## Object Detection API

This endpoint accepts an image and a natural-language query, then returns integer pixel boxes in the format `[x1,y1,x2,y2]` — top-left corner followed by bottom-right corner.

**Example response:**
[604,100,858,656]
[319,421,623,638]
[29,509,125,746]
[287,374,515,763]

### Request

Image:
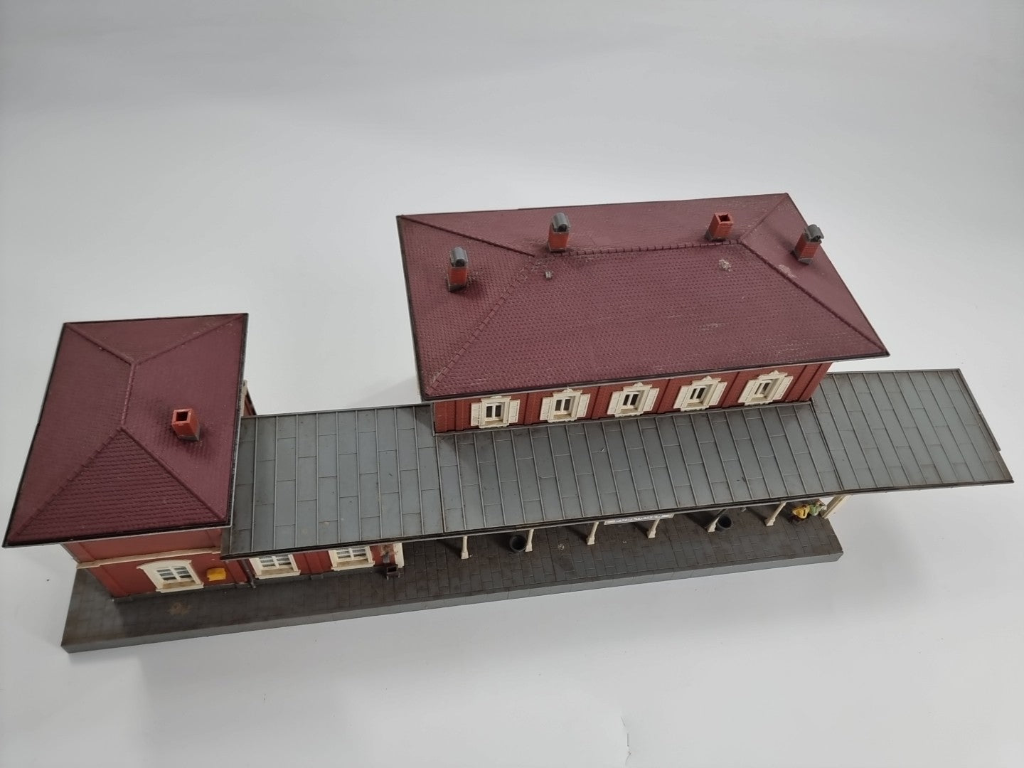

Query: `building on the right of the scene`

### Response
[399,192,888,433]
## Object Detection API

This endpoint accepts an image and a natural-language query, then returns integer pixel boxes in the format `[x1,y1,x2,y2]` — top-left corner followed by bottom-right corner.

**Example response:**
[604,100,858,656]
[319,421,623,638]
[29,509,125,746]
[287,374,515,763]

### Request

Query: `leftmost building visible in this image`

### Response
[3,313,256,604]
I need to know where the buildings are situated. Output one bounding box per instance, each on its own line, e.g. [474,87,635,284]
[399,192,888,433]
[3,313,256,604]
